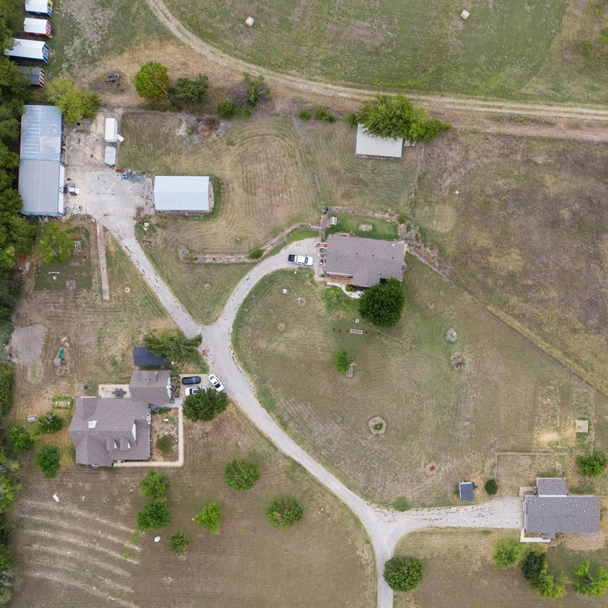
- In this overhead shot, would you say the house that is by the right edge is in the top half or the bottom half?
bottom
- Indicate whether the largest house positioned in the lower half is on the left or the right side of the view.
left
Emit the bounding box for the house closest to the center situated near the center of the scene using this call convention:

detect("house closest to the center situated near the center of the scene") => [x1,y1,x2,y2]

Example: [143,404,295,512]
[320,232,406,287]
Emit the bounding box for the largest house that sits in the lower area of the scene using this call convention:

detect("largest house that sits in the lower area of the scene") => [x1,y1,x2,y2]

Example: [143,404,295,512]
[69,371,173,467]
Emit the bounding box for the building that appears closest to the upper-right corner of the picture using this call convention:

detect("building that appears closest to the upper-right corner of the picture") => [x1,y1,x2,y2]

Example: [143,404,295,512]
[356,124,403,160]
